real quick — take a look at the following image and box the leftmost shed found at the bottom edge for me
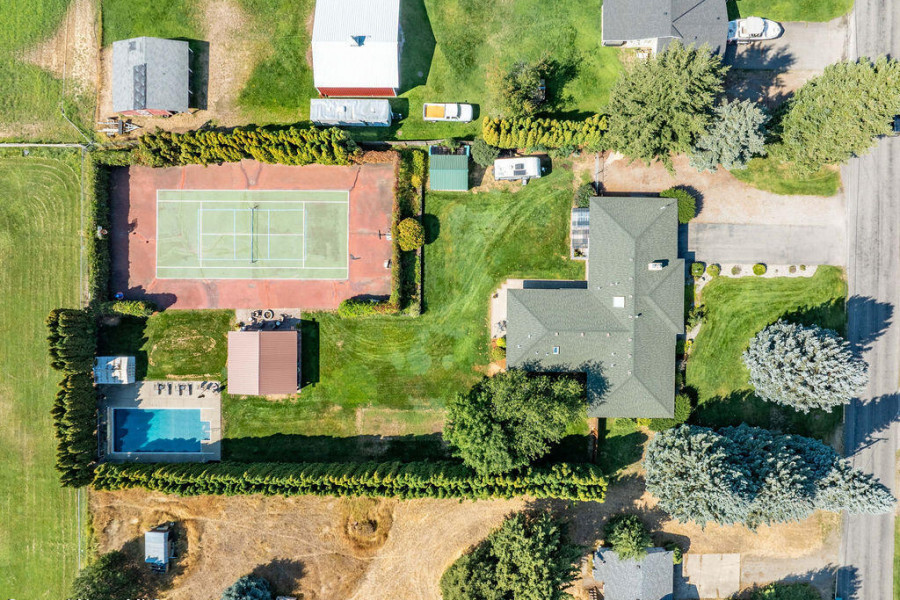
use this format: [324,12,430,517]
[145,526,184,572]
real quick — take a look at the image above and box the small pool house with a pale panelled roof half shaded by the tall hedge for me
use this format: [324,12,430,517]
[95,356,143,384]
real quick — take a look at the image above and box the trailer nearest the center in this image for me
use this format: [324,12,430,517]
[493,158,546,188]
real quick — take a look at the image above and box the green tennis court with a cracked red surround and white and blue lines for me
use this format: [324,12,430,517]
[108,158,397,312]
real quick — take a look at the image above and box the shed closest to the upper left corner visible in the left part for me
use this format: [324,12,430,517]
[113,37,194,115]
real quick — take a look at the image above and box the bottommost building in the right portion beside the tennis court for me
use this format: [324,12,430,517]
[505,196,686,418]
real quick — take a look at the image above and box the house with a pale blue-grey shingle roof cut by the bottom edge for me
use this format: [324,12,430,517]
[592,542,674,600]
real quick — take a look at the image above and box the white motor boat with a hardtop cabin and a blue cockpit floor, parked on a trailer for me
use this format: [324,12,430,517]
[728,18,784,42]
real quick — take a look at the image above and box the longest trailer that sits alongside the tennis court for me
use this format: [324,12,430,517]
[312,99,402,128]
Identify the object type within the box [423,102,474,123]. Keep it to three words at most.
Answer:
truck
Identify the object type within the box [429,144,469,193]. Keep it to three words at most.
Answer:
shed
